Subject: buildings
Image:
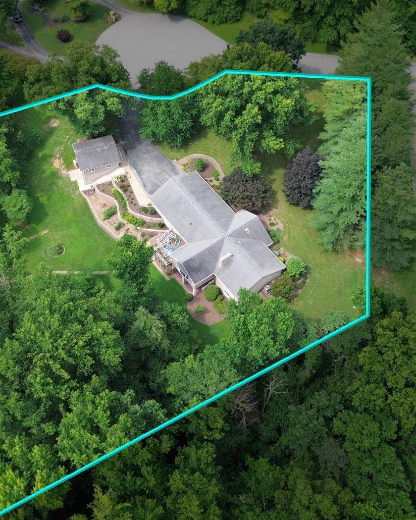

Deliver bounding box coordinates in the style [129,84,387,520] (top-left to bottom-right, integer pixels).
[148,171,285,306]
[72,134,121,185]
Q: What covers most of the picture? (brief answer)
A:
trees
